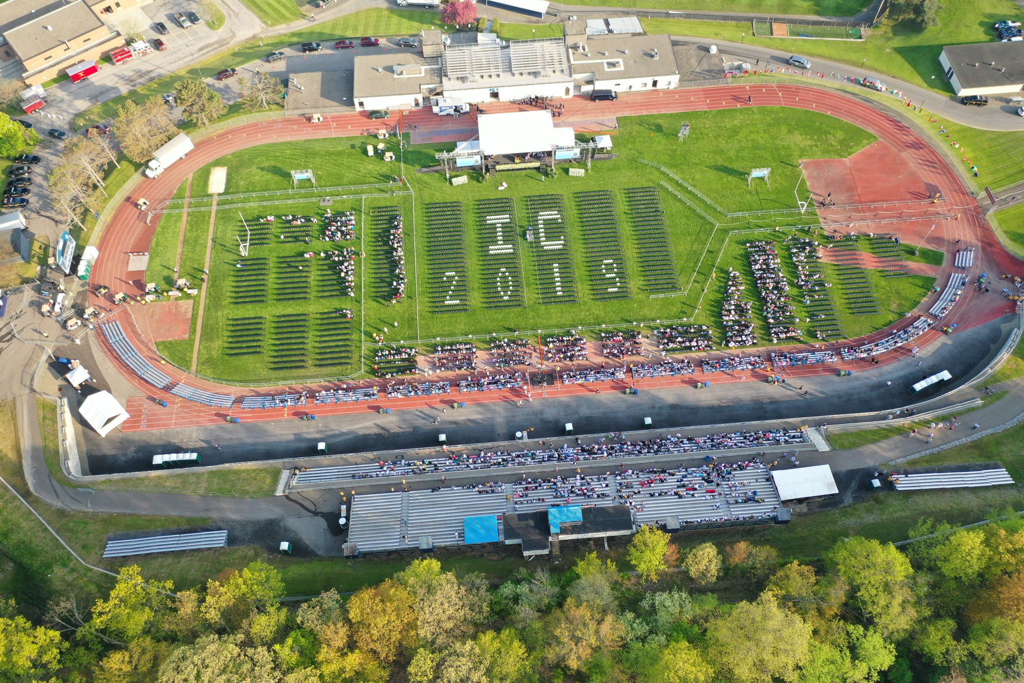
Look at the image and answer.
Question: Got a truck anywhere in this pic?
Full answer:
Yes, the image includes a truck.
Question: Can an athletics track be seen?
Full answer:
Yes, the picture does show an athletics track.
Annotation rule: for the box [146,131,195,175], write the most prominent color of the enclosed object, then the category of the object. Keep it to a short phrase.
white truck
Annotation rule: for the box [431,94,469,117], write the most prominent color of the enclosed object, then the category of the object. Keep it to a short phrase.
white truck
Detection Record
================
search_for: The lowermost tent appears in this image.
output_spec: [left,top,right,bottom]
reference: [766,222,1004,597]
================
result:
[79,393,136,442]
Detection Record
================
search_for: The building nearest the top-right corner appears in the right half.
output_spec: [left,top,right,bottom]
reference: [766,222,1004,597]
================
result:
[937,38,1024,99]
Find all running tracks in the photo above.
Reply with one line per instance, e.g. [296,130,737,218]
[91,83,994,420]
